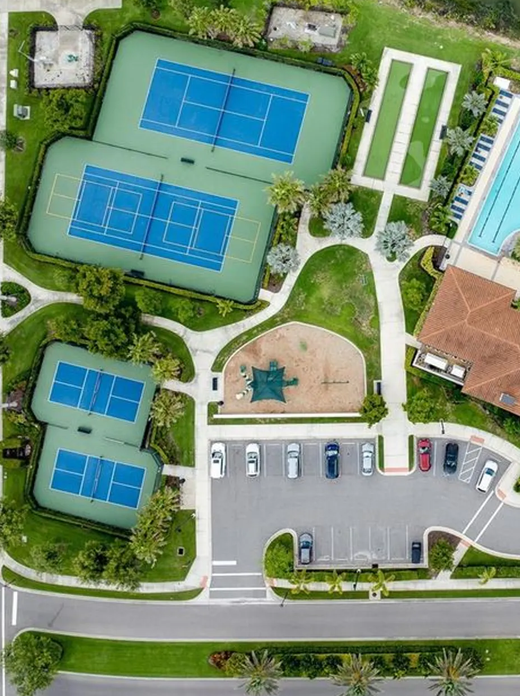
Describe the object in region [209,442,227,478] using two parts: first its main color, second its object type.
white car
